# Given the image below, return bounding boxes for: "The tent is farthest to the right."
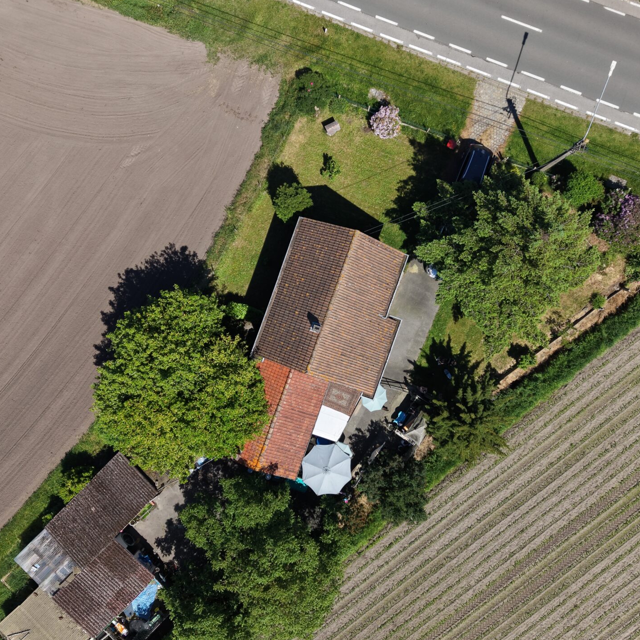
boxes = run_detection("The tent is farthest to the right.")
[401,408,427,446]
